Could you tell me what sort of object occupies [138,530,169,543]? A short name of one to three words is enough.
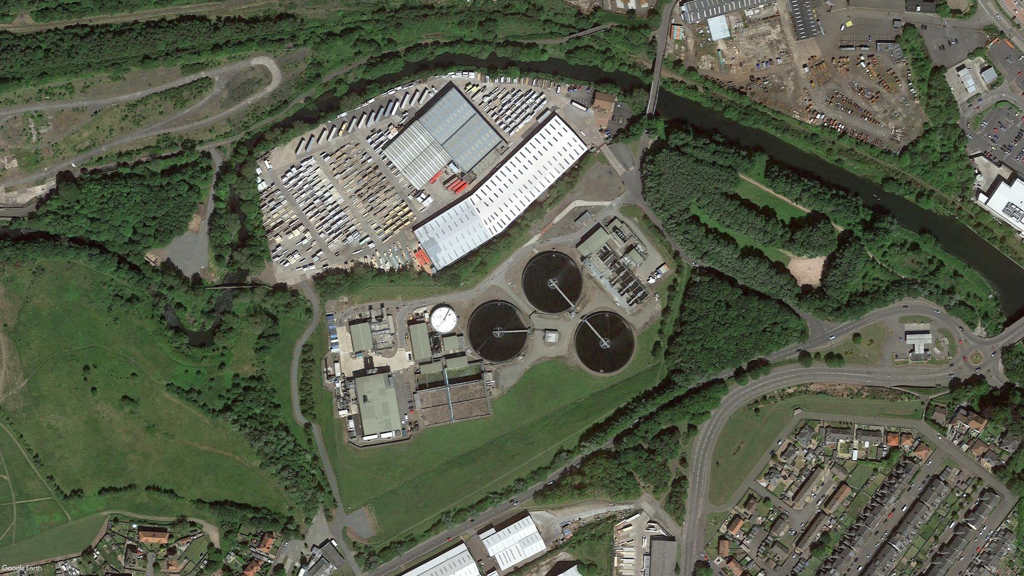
house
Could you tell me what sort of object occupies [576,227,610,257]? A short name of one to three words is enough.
building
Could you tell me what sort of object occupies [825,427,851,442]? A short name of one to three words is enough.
house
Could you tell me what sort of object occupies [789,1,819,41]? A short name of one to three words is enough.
building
